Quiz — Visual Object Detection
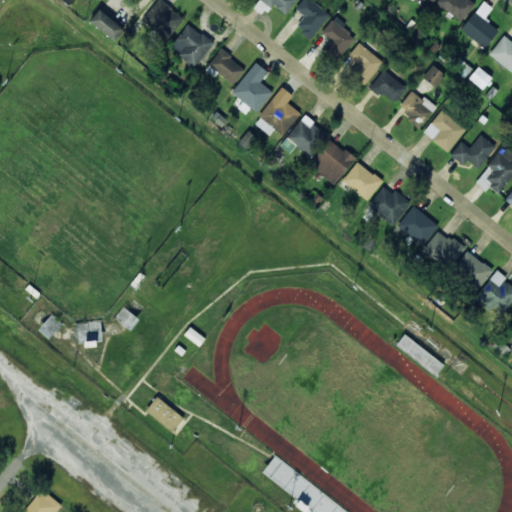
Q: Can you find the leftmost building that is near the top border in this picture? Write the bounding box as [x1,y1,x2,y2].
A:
[91,10,124,41]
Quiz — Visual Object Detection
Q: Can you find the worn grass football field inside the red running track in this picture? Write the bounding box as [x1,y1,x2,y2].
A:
[228,303,504,512]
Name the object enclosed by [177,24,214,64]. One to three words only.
house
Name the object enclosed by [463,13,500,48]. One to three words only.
house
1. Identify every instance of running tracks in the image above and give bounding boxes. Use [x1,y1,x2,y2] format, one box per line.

[184,288,512,512]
